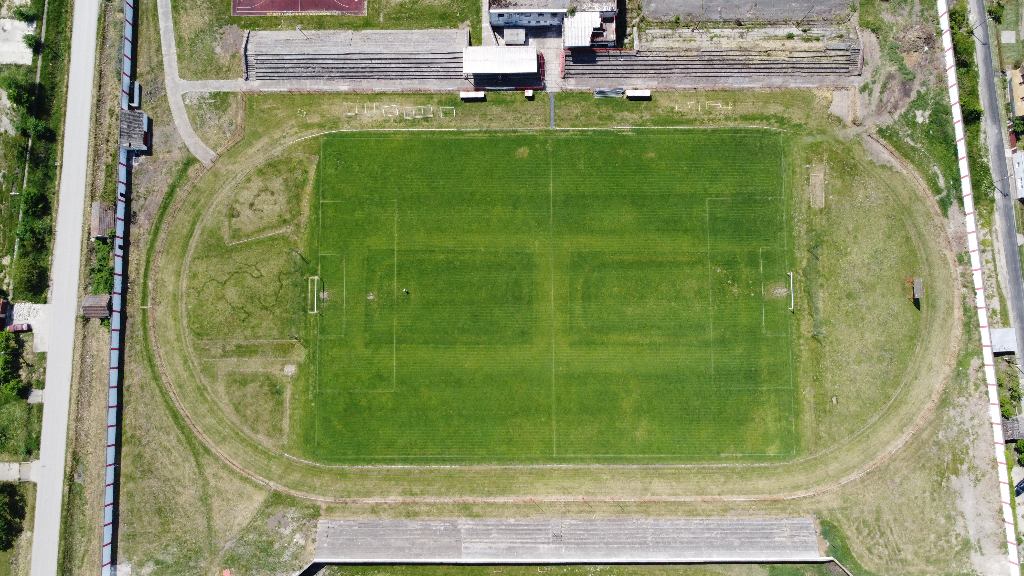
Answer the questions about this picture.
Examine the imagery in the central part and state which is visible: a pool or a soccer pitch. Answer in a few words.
soccer pitch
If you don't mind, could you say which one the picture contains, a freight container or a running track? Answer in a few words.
running track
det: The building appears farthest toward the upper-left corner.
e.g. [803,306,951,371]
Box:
[121,111,148,151]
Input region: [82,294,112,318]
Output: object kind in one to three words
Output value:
shed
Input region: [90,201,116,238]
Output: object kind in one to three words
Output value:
shed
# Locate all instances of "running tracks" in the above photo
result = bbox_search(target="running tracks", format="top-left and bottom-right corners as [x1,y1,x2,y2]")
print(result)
[153,91,956,499]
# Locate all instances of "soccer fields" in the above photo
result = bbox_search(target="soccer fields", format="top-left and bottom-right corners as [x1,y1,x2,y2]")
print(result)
[313,127,798,466]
